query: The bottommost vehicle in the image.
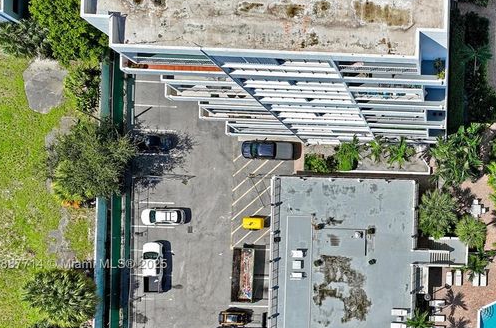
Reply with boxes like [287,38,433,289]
[216,308,244,325]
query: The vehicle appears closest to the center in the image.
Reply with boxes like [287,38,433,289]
[240,140,291,160]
